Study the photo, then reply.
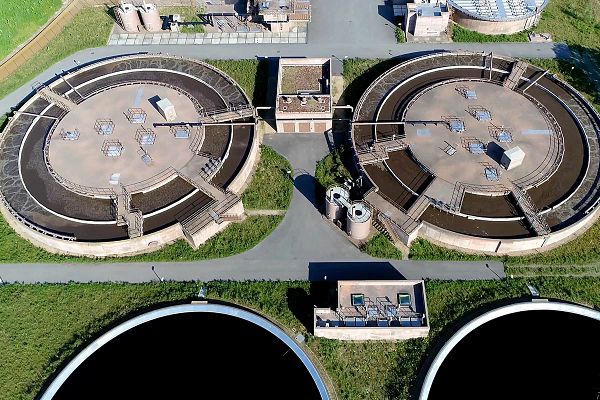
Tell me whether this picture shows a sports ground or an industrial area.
industrial area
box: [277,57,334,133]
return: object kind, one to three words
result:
building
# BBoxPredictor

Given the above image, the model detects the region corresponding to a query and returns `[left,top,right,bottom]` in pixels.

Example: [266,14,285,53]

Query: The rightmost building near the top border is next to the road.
[405,0,452,38]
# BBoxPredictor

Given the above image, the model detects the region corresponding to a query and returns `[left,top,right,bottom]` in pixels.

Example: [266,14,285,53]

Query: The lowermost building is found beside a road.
[314,281,430,338]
